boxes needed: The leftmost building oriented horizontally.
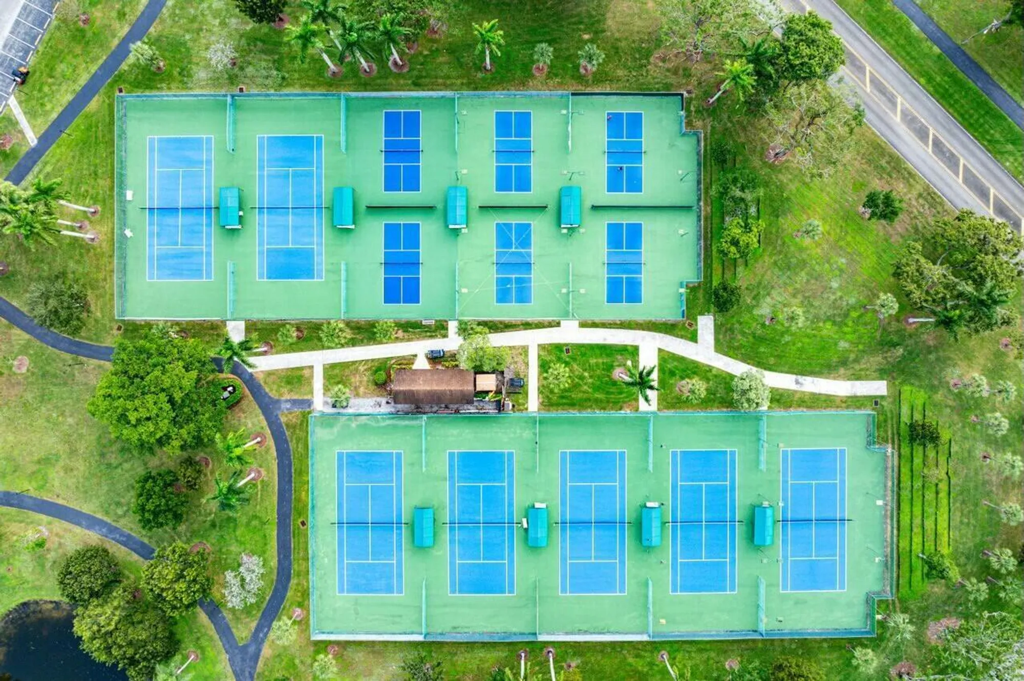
[393,369,474,404]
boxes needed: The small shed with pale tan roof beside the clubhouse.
[476,374,496,391]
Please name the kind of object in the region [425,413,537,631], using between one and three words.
tennis court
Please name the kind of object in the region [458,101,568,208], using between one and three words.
sports court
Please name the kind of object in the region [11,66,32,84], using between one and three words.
work vehicle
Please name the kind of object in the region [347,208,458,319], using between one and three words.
sports court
